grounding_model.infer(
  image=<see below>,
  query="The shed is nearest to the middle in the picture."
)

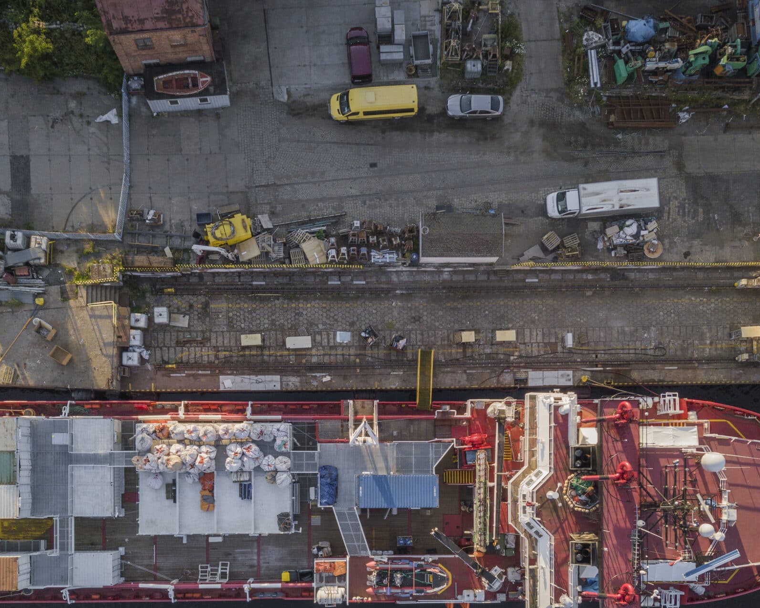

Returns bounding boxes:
[419,213,505,264]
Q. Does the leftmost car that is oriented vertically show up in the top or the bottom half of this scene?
top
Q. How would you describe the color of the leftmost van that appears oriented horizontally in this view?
yellow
